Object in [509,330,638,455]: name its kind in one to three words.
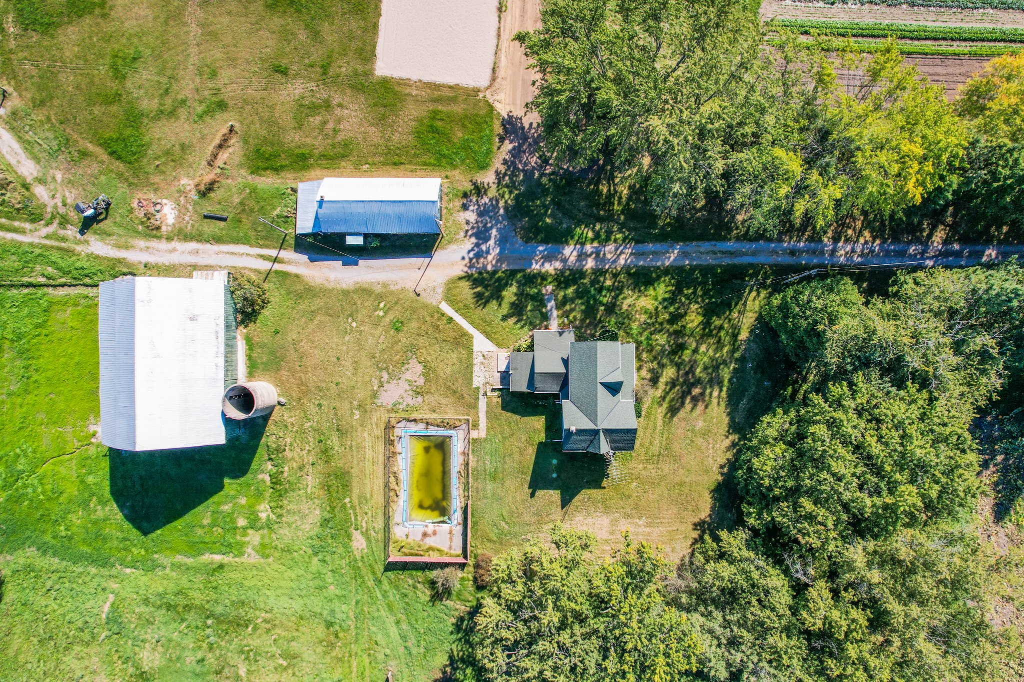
house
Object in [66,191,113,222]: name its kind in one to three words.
work vehicle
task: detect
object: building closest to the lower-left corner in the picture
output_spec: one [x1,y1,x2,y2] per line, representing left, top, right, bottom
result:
[99,276,241,453]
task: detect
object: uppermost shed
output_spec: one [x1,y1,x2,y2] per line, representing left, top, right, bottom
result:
[295,177,442,246]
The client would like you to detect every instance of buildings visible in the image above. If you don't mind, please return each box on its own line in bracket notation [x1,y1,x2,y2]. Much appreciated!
[295,177,442,246]
[509,330,638,455]
[99,276,241,453]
